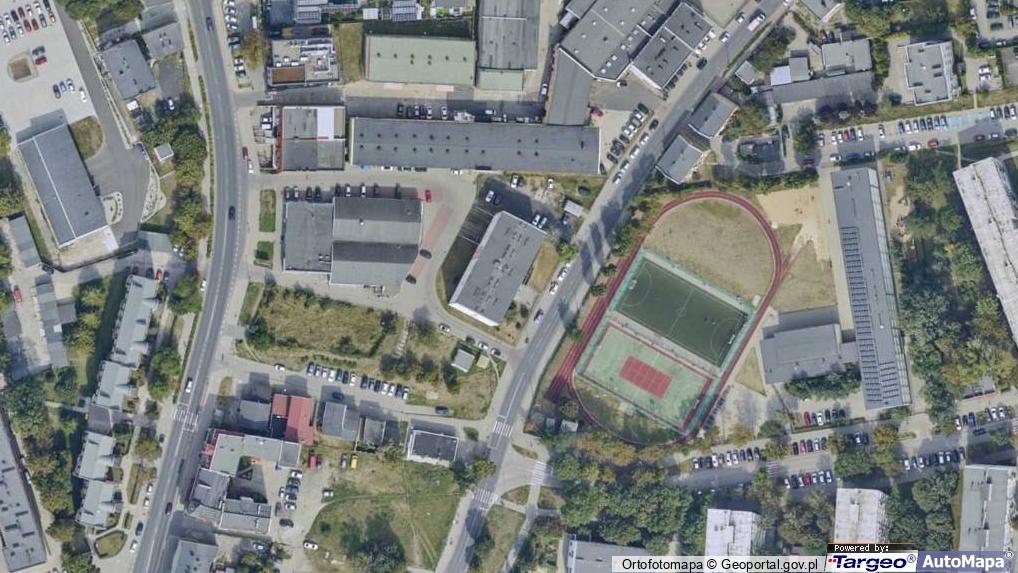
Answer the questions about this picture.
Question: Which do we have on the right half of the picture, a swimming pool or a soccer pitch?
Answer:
soccer pitch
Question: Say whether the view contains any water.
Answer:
No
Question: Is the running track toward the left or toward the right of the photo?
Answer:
right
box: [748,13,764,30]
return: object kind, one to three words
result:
vehicle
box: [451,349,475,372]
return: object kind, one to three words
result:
shed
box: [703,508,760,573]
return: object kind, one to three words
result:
building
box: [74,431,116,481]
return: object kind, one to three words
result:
house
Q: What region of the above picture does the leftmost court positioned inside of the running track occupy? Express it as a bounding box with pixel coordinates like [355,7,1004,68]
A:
[584,321,713,430]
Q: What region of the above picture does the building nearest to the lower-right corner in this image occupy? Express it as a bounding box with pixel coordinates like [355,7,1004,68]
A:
[956,465,1017,573]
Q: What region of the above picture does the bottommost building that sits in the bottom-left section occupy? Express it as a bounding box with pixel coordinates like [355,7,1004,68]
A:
[172,540,219,573]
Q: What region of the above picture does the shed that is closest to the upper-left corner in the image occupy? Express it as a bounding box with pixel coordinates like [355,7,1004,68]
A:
[99,22,138,48]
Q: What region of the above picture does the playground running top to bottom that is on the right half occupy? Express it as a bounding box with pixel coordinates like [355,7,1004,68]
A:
[888,175,911,236]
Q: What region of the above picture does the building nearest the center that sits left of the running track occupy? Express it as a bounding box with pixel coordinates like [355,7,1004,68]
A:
[447,211,545,329]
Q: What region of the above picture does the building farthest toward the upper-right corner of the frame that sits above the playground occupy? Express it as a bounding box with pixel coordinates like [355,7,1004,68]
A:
[904,42,958,105]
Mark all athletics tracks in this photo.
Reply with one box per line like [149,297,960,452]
[546,190,804,446]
